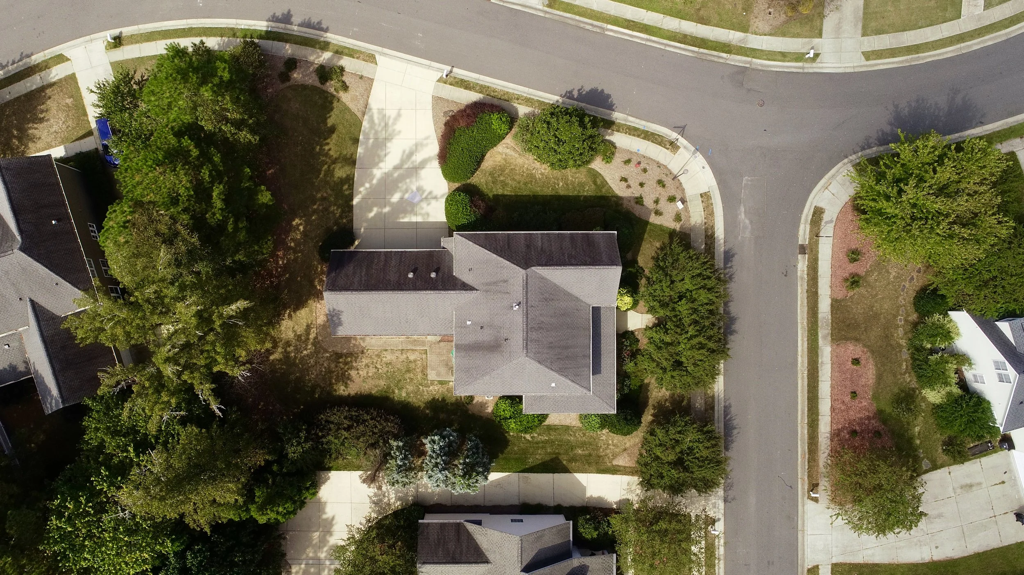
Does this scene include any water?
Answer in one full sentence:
No, no water is visible.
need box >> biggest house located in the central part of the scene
[322,230,622,415]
